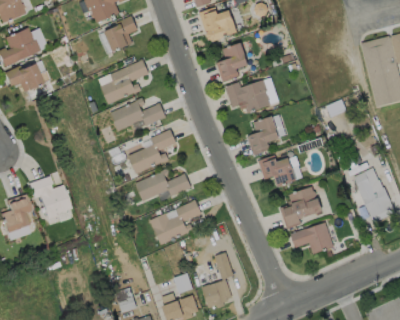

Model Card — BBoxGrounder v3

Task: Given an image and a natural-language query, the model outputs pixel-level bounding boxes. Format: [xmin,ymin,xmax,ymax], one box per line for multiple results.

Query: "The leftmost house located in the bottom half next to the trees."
[2,195,34,240]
